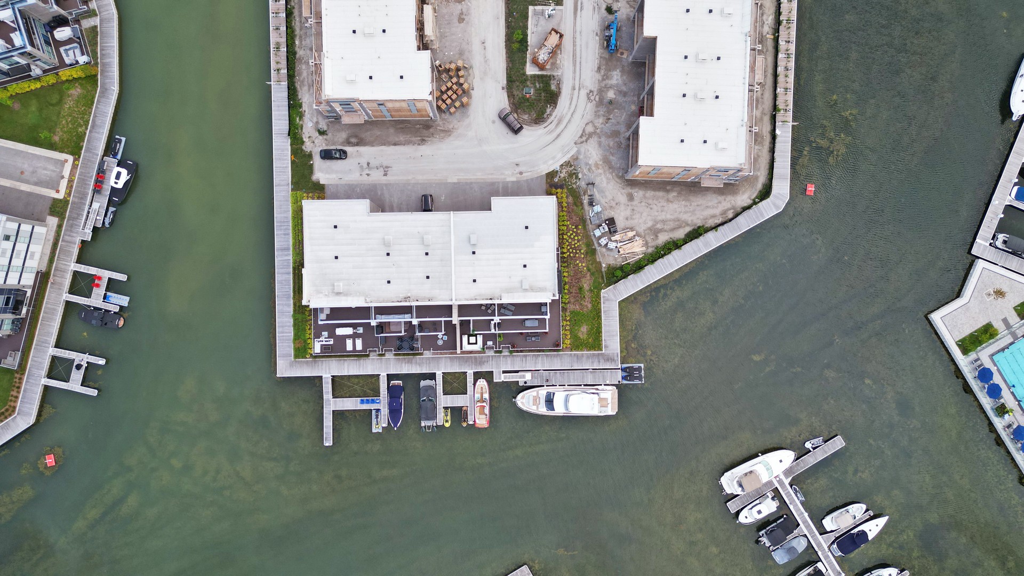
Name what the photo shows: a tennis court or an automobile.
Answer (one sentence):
The one in the frame is an automobile.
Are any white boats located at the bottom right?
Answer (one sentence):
Yes, there is a white boat at the bottom right.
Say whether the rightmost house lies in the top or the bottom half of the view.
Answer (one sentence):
The top half of the photo is where the rightmost house is.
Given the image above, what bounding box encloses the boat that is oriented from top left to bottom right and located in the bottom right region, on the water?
[792,485,806,501]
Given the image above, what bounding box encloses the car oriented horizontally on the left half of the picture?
[320,148,347,161]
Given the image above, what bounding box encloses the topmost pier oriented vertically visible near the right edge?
[970,122,1024,274]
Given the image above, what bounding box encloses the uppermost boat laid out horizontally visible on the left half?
[77,308,127,328]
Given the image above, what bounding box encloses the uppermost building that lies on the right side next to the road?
[625,0,764,188]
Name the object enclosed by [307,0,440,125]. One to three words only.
house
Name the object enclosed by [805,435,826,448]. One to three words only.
boat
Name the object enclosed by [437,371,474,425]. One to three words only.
pier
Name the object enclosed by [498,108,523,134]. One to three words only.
car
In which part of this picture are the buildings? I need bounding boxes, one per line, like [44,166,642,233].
[625,0,764,188]
[0,208,50,368]
[302,196,562,354]
[0,0,96,89]
[307,0,440,125]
